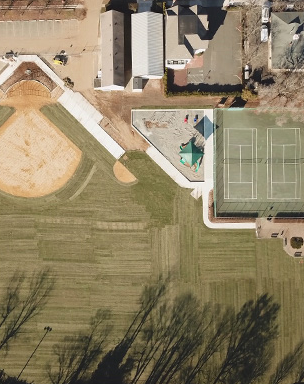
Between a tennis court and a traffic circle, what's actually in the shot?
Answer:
tennis court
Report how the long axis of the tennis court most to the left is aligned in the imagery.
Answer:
up and down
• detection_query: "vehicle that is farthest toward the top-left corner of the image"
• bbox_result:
[2,49,16,62]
